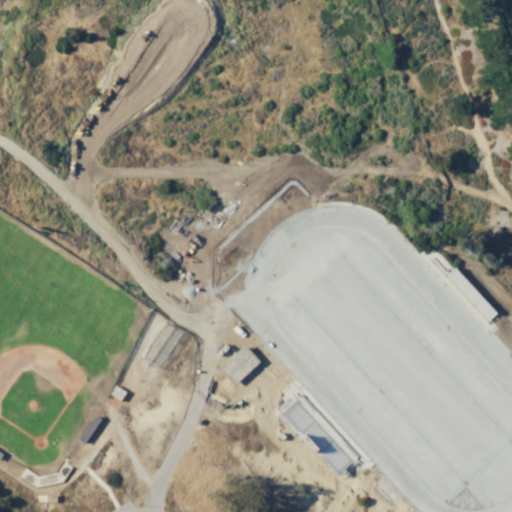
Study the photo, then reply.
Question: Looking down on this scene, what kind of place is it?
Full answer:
It's a sports ground.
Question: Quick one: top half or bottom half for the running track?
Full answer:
The running track is in the bottom half of the image.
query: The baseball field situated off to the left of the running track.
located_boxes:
[0,216,134,468]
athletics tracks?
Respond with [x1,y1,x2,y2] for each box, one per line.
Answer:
[226,196,512,512]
